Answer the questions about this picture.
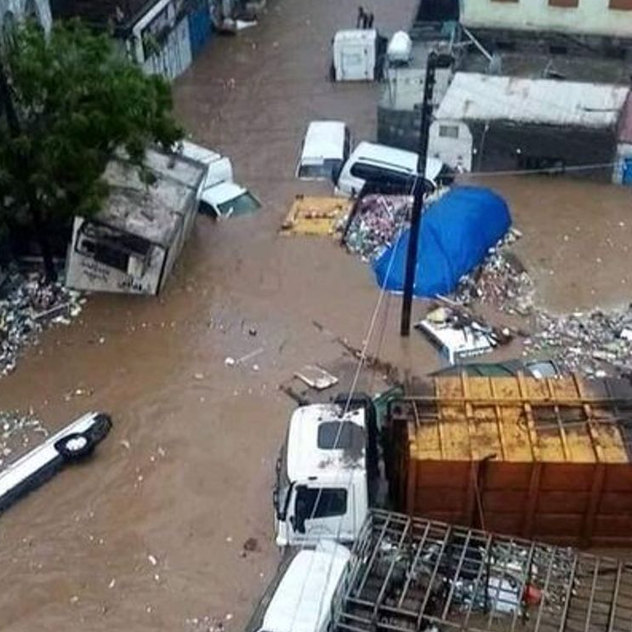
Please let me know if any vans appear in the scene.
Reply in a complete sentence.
Yes, you can see a van in this photo.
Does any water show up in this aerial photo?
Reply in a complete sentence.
Yes, there's water in this view.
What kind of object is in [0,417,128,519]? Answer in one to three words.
car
